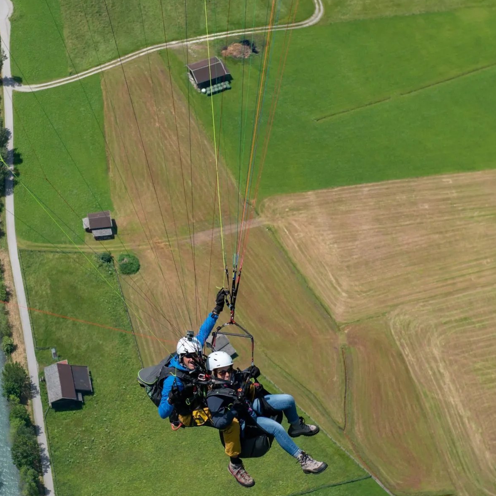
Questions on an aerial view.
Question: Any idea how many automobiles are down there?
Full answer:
No automobiles are visible.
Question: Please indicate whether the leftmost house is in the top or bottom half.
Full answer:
You can find the leftmost house in the bottom half.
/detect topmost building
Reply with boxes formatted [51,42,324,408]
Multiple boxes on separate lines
[188,57,232,89]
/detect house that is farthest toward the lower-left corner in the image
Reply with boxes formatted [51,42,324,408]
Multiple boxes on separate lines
[44,359,93,409]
